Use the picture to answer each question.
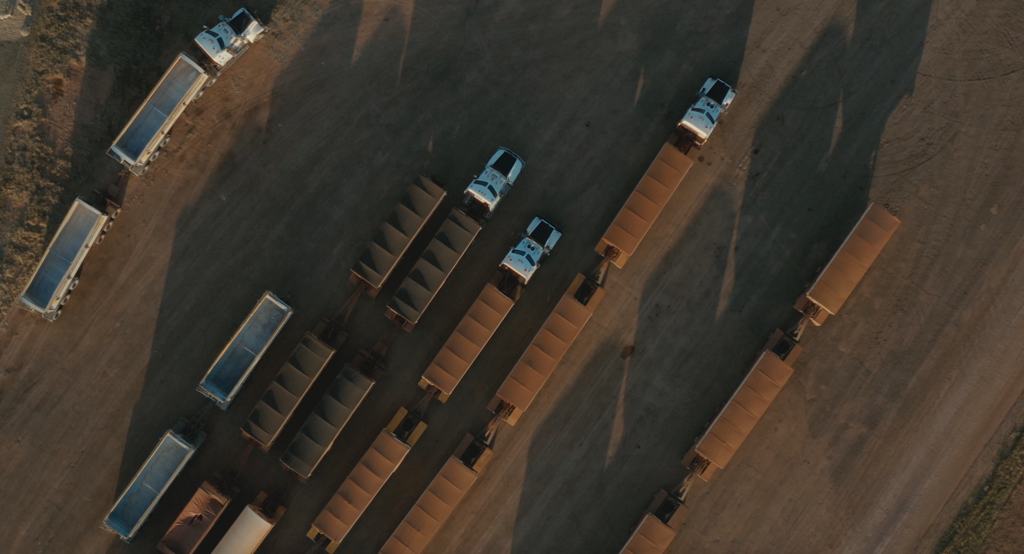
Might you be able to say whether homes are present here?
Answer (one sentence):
No, the frame has no home in it.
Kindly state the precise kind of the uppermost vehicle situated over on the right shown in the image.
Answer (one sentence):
It looks like the uppermost vehicle situated over on the right is a truck.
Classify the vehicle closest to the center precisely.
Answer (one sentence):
In the photo, the vehicle closest to the center shows up as a truck.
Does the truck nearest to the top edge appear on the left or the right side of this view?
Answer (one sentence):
The truck nearest to the top edge is on the left side of the image.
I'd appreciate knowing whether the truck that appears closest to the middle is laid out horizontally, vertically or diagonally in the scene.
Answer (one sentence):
The truck that appears closest to the middle has been laid out diagonally relative to the frame.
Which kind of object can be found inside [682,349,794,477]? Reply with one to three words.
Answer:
trailer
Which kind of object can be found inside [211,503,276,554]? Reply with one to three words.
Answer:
trailer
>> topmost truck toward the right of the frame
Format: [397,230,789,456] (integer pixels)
[668,72,740,159]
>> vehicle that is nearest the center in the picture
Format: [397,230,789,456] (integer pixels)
[488,208,566,300]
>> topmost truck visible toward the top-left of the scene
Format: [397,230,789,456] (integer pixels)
[192,0,274,104]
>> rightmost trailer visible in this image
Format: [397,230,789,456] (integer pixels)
[791,201,900,327]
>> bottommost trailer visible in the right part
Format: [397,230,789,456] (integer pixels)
[613,512,676,554]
